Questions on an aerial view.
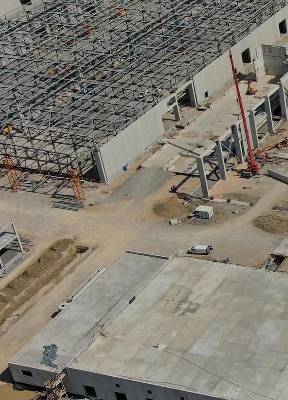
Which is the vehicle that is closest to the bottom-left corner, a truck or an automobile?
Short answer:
truck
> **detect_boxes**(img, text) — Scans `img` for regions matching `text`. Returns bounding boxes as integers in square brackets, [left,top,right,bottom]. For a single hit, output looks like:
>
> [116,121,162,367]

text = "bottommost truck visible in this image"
[49,264,105,313]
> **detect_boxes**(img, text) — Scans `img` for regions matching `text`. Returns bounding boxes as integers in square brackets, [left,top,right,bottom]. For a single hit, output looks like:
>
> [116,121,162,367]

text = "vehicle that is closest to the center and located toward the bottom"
[188,244,211,256]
